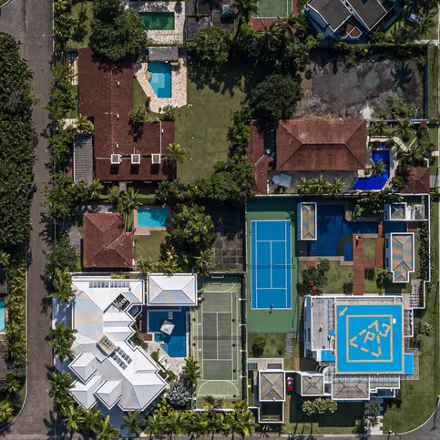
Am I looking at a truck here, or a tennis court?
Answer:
tennis court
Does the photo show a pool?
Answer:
Yes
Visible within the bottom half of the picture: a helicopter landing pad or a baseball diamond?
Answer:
helicopter landing pad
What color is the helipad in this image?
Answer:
blue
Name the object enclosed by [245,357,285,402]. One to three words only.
building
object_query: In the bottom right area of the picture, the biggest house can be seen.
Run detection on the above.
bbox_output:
[297,295,419,400]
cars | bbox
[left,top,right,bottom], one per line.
[286,376,295,392]
[405,13,421,22]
